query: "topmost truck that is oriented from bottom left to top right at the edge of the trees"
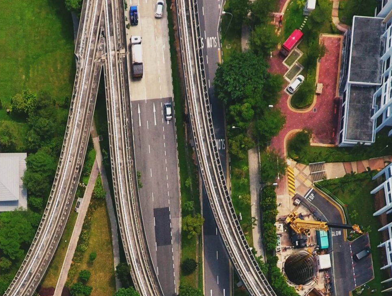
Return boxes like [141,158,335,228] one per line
[278,20,309,58]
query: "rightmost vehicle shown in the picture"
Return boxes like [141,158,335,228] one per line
[351,246,374,262]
